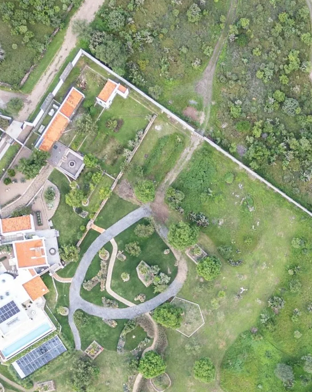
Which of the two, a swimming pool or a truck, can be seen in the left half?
swimming pool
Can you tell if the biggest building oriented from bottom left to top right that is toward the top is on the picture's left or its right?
left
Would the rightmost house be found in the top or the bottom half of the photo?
top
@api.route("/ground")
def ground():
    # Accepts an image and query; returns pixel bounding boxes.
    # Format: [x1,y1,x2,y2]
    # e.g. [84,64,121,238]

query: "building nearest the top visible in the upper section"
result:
[95,79,128,107]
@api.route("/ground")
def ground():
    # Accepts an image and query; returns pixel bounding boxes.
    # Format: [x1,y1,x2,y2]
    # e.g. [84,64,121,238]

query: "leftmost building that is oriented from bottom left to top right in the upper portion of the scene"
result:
[34,87,85,154]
